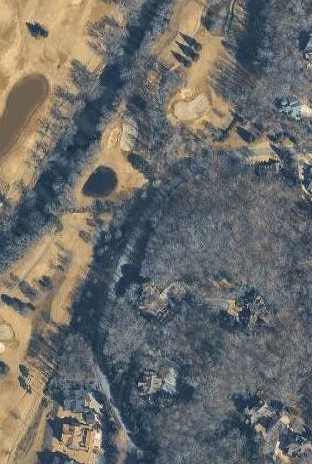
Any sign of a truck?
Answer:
No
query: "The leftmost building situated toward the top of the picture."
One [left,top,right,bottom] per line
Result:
[253,161,283,177]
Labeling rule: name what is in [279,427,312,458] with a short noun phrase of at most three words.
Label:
house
